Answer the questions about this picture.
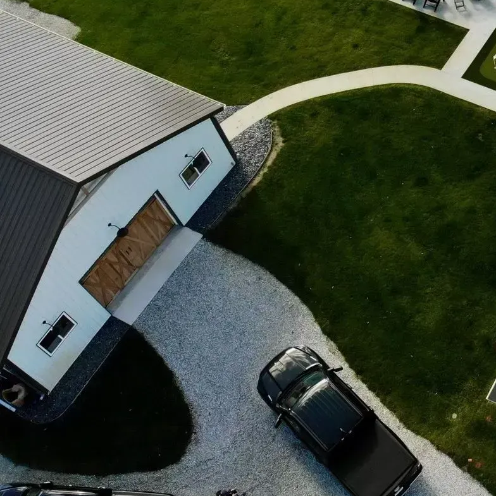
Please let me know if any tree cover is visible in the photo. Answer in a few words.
No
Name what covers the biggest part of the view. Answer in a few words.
grass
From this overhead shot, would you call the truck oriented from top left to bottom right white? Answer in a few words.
No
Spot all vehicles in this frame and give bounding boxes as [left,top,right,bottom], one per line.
[257,342,430,496]
[0,465,191,496]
